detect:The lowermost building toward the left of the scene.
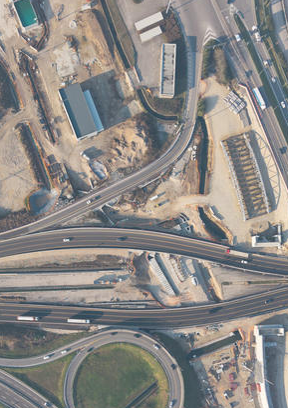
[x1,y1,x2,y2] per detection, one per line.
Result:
[58,83,104,141]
